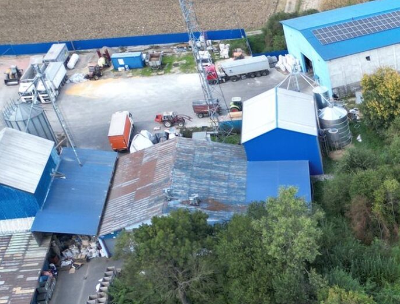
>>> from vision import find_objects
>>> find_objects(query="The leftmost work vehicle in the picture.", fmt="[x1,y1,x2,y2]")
[4,65,20,88]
